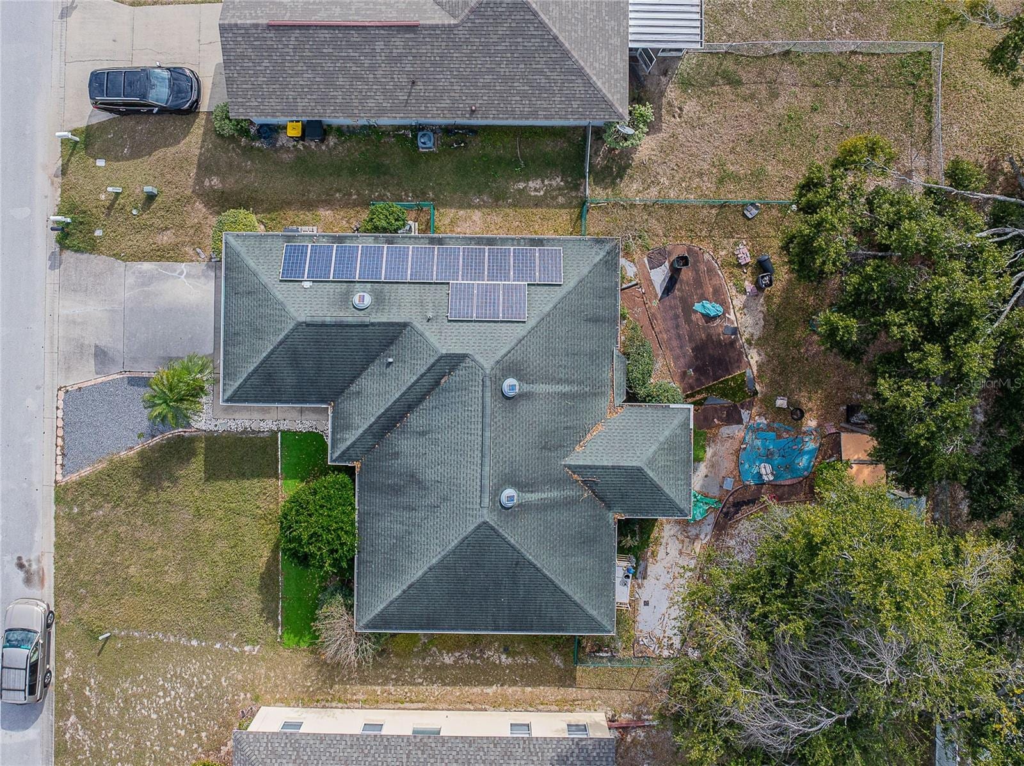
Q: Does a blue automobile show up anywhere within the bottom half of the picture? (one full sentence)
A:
No, I can find no blue automobile within the bottom half of the picture.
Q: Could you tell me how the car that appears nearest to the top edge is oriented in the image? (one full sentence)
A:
The car that appears nearest to the top edge is oriented horizontally.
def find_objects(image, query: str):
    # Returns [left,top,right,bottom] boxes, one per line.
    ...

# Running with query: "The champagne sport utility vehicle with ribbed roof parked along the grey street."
[0,597,55,704]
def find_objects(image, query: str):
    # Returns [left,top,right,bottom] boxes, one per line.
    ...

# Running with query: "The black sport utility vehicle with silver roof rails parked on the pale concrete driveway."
[88,59,203,118]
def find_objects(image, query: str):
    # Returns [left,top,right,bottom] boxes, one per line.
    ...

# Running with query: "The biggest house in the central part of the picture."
[220,235,694,633]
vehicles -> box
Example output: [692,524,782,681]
[88,59,203,118]
[0,597,55,704]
